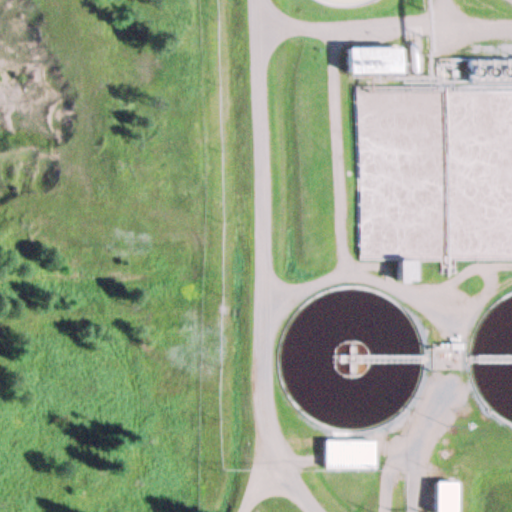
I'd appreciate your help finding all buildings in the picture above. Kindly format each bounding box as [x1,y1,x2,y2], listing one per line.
[468,59,512,84]
[348,46,404,75]
[399,262,421,284]
[434,476,458,512]
[324,437,376,470]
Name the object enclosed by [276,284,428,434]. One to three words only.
storage tank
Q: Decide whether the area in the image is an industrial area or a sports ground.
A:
industrial area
